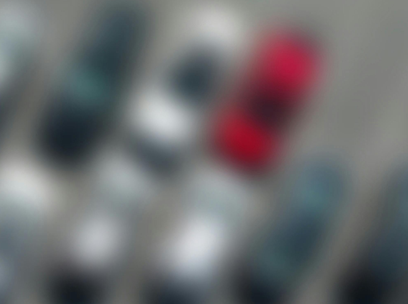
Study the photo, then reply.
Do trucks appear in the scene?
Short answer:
No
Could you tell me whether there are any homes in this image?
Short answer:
No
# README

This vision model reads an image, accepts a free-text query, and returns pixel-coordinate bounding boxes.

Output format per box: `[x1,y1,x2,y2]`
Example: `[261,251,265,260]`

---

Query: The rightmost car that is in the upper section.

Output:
[214,38,319,176]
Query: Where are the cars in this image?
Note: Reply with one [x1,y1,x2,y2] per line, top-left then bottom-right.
[38,162,153,304]
[0,25,40,134]
[231,162,352,304]
[214,38,319,176]
[134,15,247,167]
[139,173,251,304]
[33,13,154,169]
[0,169,54,304]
